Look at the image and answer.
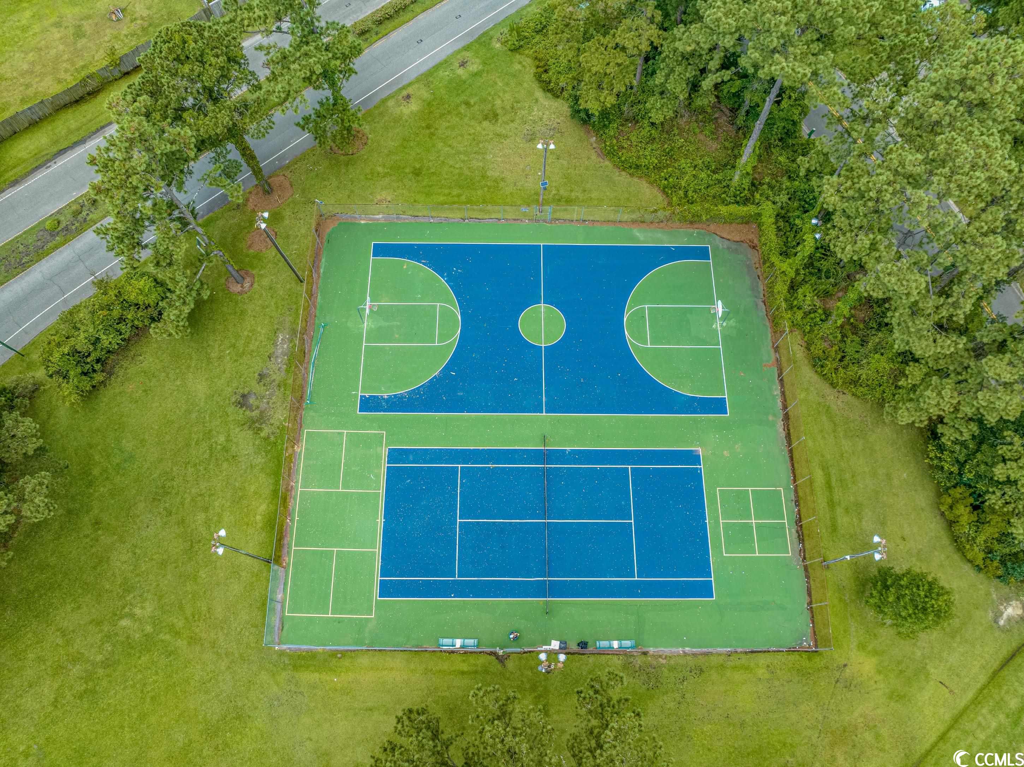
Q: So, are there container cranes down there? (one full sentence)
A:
No, I find no container crane anywhere in the image.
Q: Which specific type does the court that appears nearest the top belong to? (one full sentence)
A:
In the photo, the court that appears nearest the top shows up as a basketball court.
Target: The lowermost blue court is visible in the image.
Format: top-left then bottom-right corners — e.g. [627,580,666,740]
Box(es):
[378,447,715,600]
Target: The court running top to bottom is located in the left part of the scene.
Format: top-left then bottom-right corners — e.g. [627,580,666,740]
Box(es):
[285,431,385,616]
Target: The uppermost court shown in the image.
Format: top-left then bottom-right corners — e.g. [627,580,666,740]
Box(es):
[359,243,729,415]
